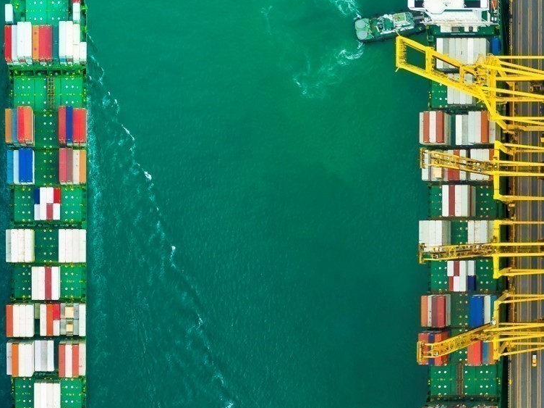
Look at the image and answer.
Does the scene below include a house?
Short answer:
No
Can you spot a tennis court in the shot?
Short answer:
No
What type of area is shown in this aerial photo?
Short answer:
port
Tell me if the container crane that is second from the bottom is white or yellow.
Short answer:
yellow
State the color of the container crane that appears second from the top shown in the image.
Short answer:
yellow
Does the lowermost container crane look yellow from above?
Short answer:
Yes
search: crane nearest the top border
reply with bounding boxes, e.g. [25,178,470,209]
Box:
[397,32,544,134]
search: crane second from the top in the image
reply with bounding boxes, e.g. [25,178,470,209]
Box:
[423,133,544,208]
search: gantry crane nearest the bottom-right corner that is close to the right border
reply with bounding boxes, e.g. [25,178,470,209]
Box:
[420,292,544,364]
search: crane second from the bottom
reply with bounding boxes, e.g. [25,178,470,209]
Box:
[420,213,544,285]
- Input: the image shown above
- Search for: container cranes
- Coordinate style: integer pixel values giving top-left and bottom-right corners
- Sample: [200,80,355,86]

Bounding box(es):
[423,133,544,208]
[397,32,544,134]
[420,292,544,364]
[420,213,544,285]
